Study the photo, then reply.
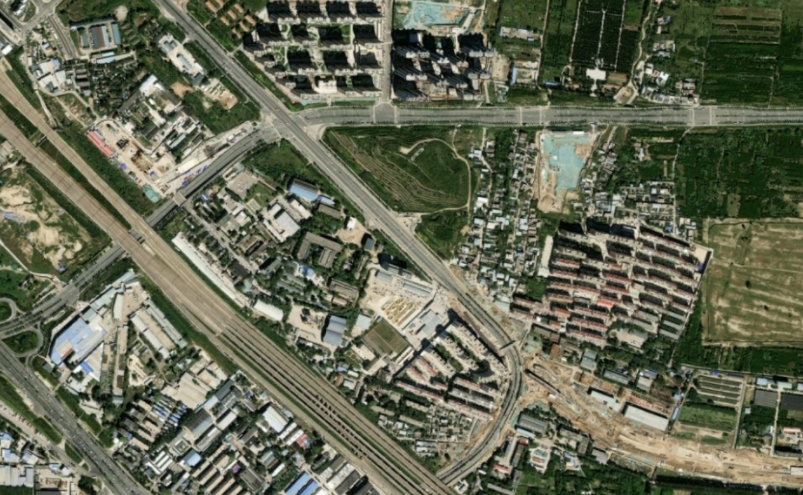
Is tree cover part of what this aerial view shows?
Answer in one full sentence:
Yes, there is tree cover in the image.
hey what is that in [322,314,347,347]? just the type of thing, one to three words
building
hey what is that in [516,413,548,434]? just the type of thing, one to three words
building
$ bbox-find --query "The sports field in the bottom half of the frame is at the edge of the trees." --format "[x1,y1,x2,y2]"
[362,318,405,358]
